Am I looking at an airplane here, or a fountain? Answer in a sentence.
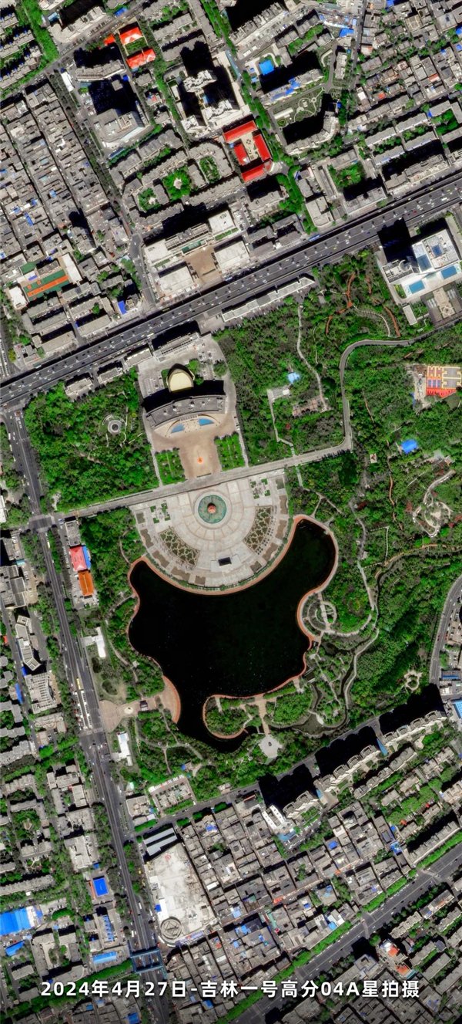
There is a fountain in the scene.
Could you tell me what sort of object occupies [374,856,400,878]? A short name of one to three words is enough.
house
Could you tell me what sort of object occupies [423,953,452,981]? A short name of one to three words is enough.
building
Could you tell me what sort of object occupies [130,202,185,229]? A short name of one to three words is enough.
building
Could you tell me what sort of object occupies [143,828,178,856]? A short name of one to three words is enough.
shed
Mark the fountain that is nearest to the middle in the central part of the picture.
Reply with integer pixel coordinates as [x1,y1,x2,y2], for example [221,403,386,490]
[197,494,228,524]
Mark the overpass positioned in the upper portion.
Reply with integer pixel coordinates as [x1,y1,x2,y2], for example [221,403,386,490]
[0,179,462,400]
